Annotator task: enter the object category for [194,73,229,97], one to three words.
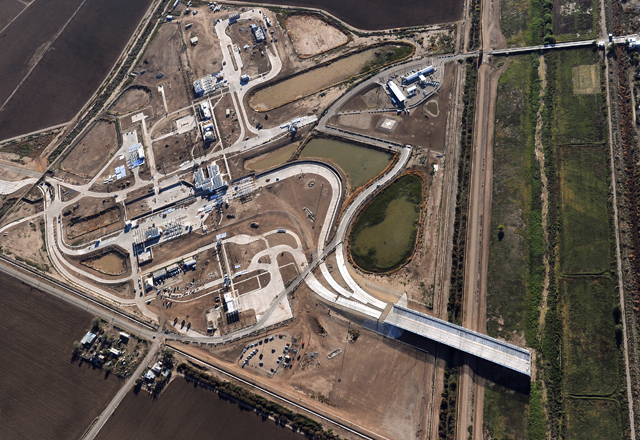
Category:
building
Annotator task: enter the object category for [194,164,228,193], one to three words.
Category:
building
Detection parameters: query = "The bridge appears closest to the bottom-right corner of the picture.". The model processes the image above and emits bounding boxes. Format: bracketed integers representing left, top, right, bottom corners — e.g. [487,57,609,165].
[384,305,531,376]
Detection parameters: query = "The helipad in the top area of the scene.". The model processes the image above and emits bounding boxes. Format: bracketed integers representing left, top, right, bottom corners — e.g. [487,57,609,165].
[376,114,401,132]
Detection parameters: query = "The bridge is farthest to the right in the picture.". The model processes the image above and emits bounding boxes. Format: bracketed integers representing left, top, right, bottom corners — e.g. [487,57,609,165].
[485,39,596,54]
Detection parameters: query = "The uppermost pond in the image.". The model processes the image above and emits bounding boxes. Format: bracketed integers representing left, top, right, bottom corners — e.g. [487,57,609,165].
[249,42,409,111]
